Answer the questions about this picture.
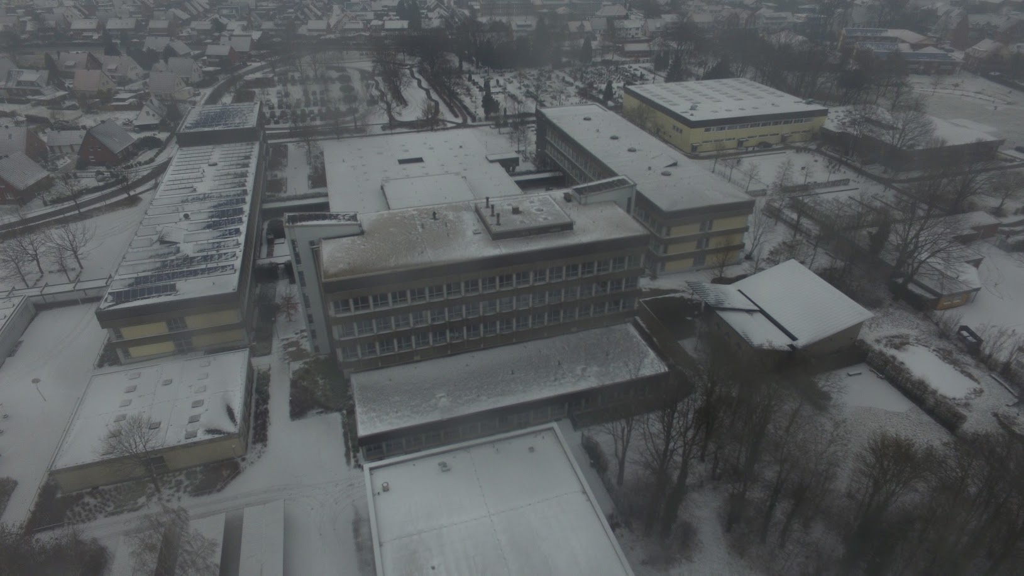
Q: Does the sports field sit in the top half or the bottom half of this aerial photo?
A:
top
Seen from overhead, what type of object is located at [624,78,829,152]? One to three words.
building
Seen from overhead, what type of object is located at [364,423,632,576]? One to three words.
building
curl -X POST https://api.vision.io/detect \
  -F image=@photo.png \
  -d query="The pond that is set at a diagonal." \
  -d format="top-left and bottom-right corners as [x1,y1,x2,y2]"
[896,345,982,398]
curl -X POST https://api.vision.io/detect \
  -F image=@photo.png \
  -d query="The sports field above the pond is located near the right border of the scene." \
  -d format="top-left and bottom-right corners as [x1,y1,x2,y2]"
[910,74,1024,144]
